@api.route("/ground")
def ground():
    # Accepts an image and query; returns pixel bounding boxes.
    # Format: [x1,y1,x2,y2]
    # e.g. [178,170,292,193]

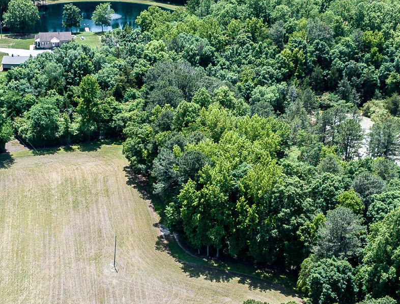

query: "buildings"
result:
[1,56,42,71]
[33,31,72,49]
